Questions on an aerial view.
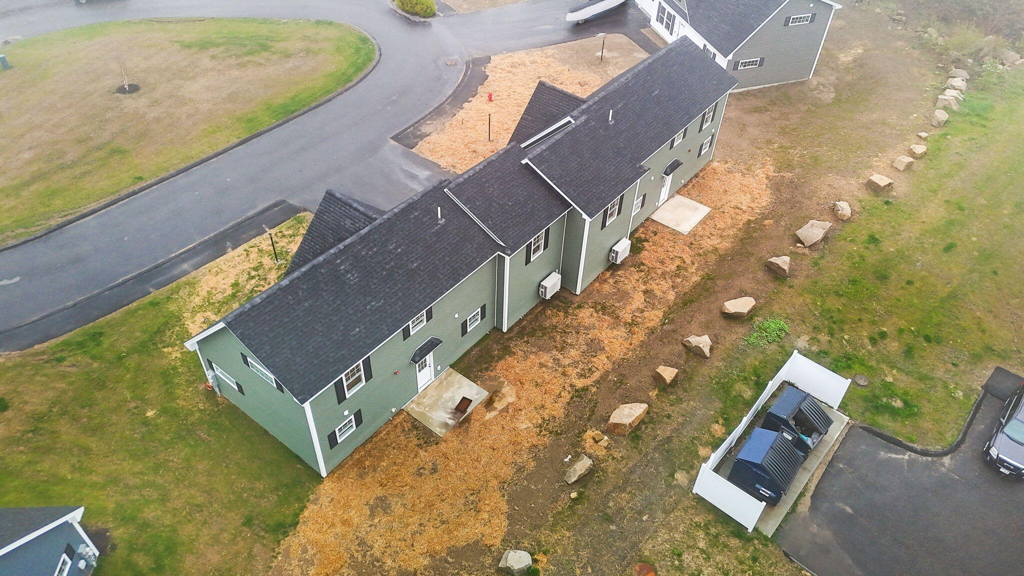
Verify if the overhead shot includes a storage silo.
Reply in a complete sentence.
No, the picture doesn't show any storage silo.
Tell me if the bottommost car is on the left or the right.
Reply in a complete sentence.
The bottommost car appears in the right half of the scene.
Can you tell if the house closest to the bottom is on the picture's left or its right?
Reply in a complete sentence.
The house closest to the bottom is on the left side of the image.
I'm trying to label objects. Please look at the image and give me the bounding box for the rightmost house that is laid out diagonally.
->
[185,37,737,478]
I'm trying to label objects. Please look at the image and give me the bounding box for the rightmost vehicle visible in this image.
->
[984,390,1024,481]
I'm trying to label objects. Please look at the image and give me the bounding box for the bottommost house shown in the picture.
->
[0,505,100,576]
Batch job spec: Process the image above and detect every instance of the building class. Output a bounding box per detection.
[185,37,737,478]
[0,505,100,576]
